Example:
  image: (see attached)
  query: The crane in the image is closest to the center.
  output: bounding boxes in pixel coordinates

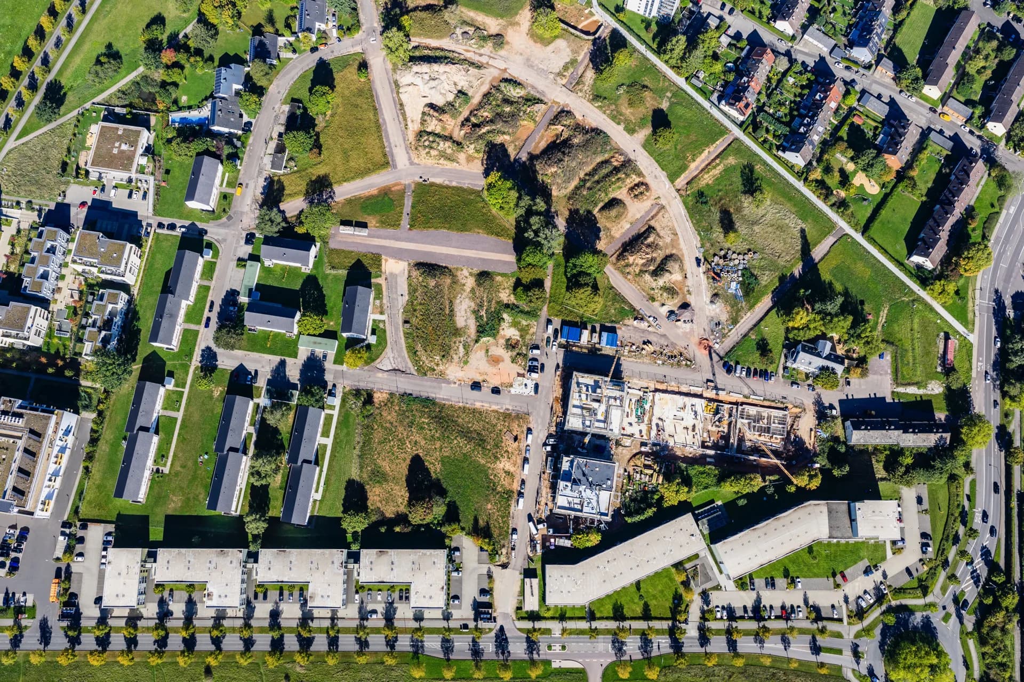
[576,351,619,463]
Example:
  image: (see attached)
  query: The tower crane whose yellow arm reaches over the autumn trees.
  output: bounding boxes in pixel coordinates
[712,405,798,484]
